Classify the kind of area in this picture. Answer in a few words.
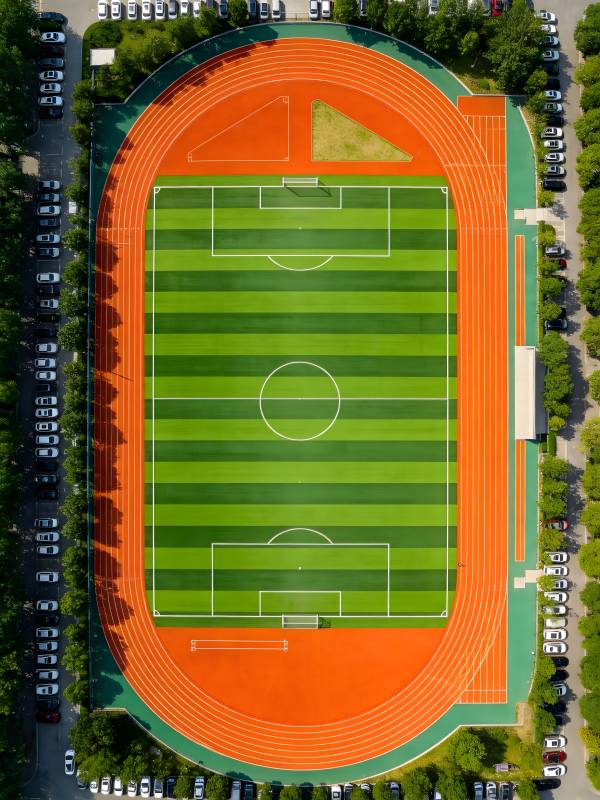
sports ground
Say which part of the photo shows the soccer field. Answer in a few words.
center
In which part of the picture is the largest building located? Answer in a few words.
top left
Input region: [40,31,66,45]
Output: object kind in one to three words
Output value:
car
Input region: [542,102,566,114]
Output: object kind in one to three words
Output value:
vehicle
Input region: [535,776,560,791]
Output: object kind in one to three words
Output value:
car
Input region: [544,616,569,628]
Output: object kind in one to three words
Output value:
vehicle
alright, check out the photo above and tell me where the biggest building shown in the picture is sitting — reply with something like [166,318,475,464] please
[90,48,118,71]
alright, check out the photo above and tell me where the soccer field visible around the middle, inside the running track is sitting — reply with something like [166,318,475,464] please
[144,176,458,629]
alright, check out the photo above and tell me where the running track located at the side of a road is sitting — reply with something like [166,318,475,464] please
[90,23,538,785]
